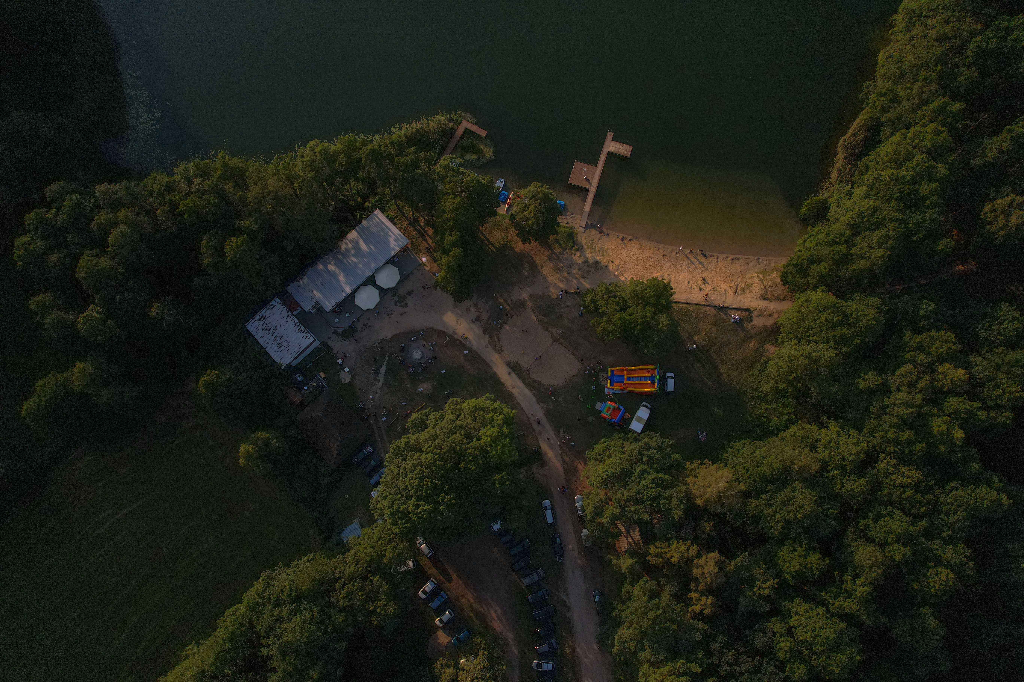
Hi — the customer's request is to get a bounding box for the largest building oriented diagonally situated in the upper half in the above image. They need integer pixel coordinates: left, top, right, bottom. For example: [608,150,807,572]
[286,209,410,317]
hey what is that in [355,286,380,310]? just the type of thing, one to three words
umbrella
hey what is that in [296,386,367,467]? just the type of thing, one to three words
house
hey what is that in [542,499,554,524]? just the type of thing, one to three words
vehicle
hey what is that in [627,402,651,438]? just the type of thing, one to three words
truck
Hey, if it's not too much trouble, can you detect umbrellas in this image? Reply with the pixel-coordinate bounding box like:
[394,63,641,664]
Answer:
[355,286,380,310]
[375,264,400,288]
